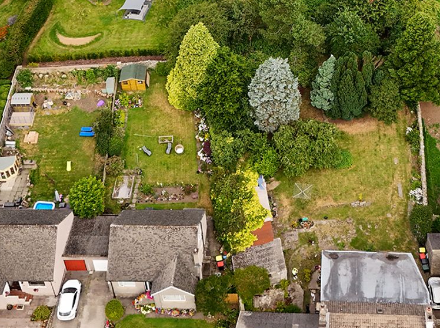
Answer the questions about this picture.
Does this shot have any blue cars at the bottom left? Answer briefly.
No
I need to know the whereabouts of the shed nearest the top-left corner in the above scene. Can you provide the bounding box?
[6,93,36,134]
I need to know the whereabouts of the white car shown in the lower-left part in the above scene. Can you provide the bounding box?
[55,282,83,325]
